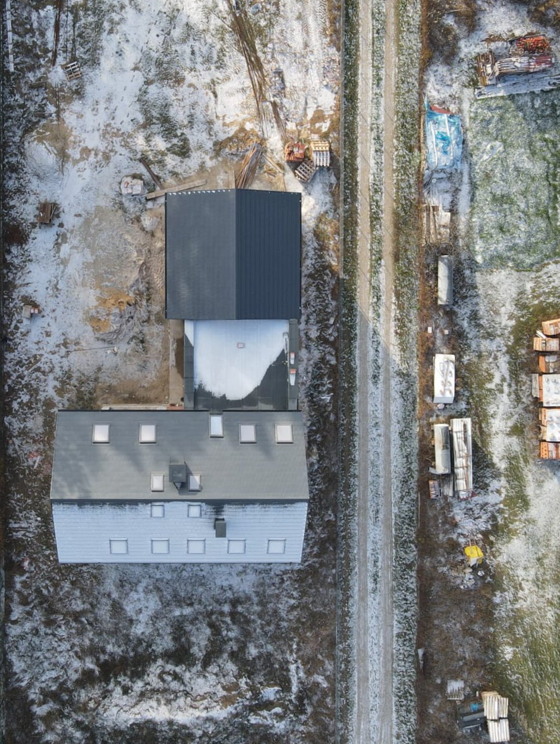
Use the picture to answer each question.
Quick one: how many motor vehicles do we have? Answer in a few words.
0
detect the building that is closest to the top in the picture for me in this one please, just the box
[163,188,303,319]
